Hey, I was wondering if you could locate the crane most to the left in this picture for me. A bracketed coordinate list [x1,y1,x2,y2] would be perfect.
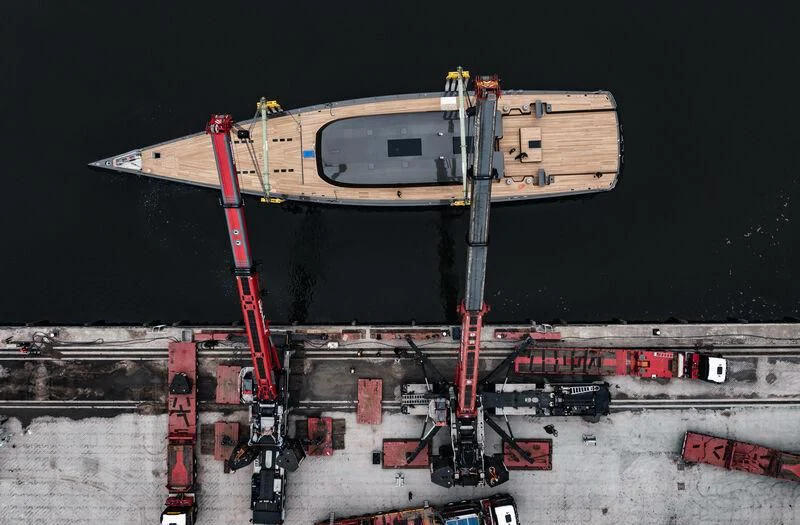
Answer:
[205,112,324,524]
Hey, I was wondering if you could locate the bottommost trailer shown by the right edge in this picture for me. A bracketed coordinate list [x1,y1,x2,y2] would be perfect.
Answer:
[679,430,800,482]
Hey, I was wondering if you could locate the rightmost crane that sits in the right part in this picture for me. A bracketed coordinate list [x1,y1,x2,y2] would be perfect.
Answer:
[401,77,609,488]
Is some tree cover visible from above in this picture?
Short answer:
No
